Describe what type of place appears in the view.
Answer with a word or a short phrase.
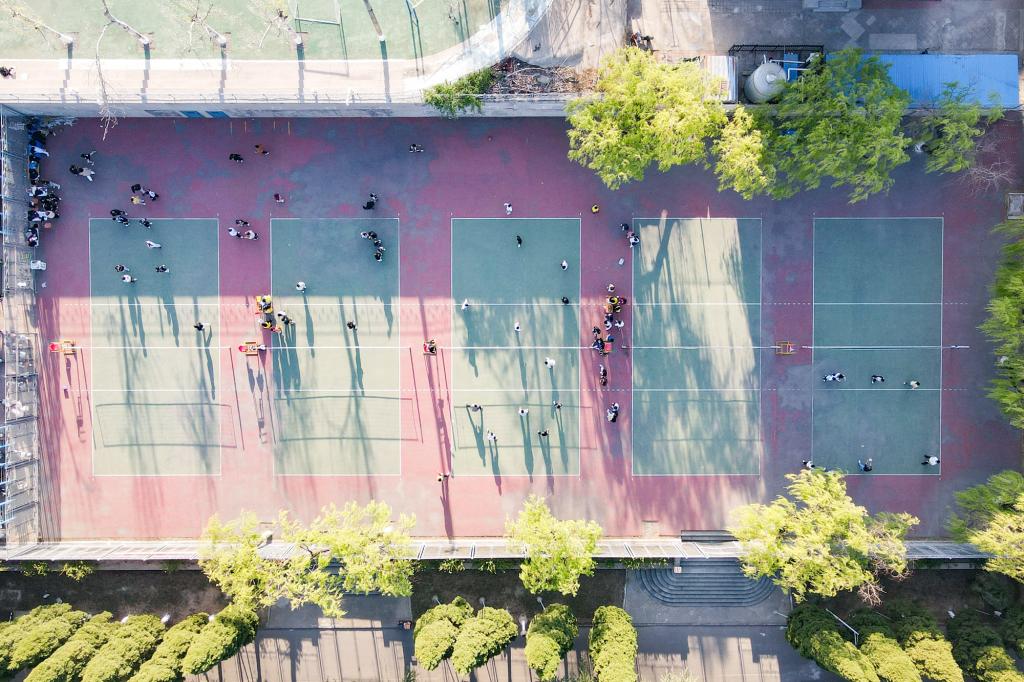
sports ground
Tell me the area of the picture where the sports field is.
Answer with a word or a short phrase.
top left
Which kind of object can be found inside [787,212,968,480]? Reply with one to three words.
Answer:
sports court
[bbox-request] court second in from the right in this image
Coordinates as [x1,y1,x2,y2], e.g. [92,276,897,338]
[606,212,786,480]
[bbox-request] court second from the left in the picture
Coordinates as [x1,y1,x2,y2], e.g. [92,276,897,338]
[246,213,426,480]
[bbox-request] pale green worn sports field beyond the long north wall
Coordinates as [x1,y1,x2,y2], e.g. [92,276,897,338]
[0,0,552,91]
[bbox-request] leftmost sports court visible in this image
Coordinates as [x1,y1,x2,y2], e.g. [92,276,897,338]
[65,214,244,480]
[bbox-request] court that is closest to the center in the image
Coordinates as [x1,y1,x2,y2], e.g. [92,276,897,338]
[426,213,606,480]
